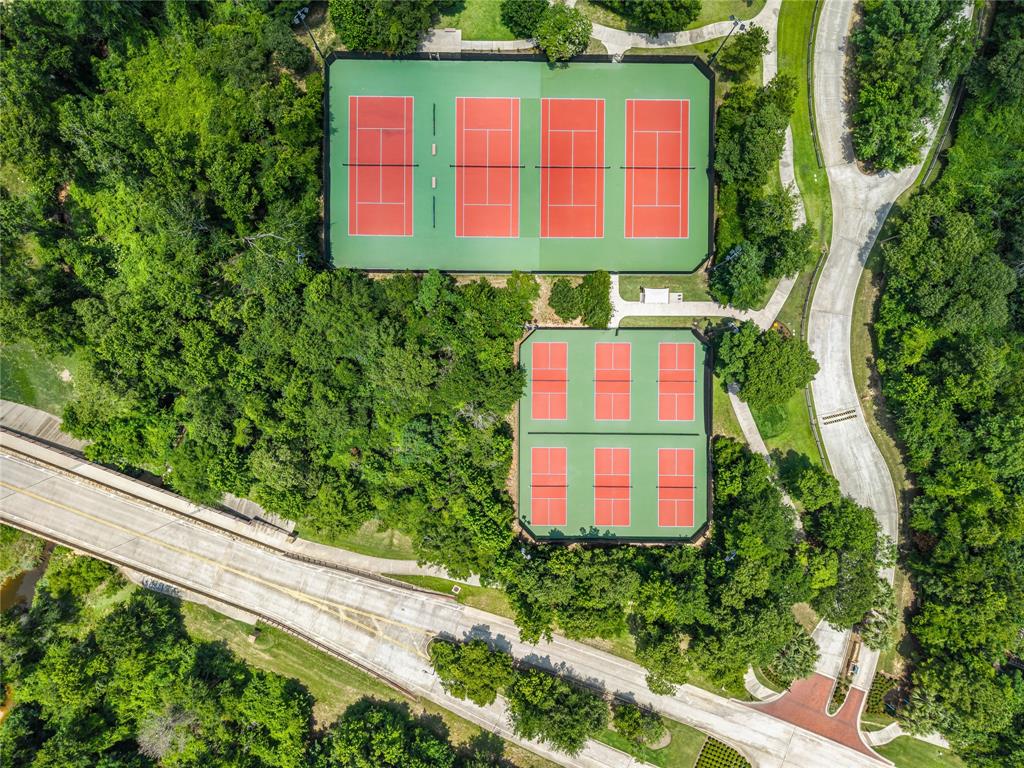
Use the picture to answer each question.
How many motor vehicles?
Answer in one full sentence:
There are no motor vehicles in this view.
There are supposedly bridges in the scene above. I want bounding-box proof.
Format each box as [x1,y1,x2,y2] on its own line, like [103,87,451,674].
[0,426,285,620]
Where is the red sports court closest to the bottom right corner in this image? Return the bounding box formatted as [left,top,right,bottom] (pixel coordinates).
[658,448,695,527]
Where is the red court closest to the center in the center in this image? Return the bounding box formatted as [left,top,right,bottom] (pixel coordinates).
[531,342,568,421]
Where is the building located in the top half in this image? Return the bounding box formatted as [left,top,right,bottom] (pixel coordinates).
[645,287,672,304]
